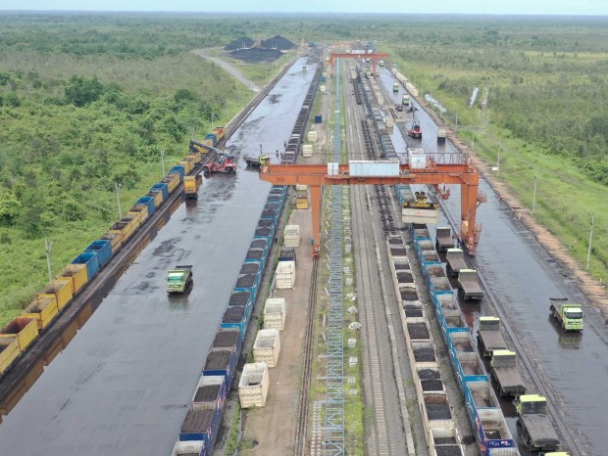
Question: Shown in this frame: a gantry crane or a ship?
gantry crane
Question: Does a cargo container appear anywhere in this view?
Yes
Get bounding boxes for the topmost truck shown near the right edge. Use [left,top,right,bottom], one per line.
[548,298,583,328]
